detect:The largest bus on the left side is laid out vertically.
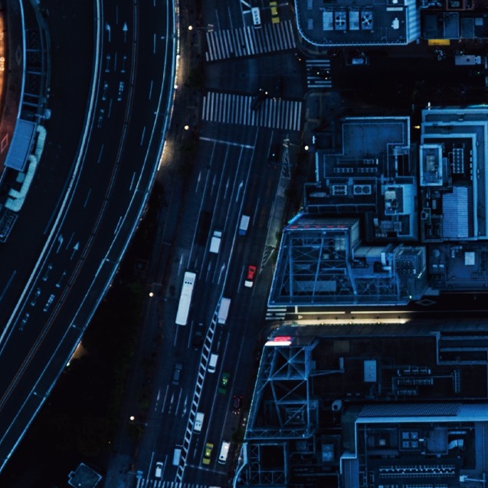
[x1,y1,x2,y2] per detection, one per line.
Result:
[174,271,195,326]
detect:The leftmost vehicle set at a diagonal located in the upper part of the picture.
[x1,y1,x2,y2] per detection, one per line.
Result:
[250,91,268,113]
